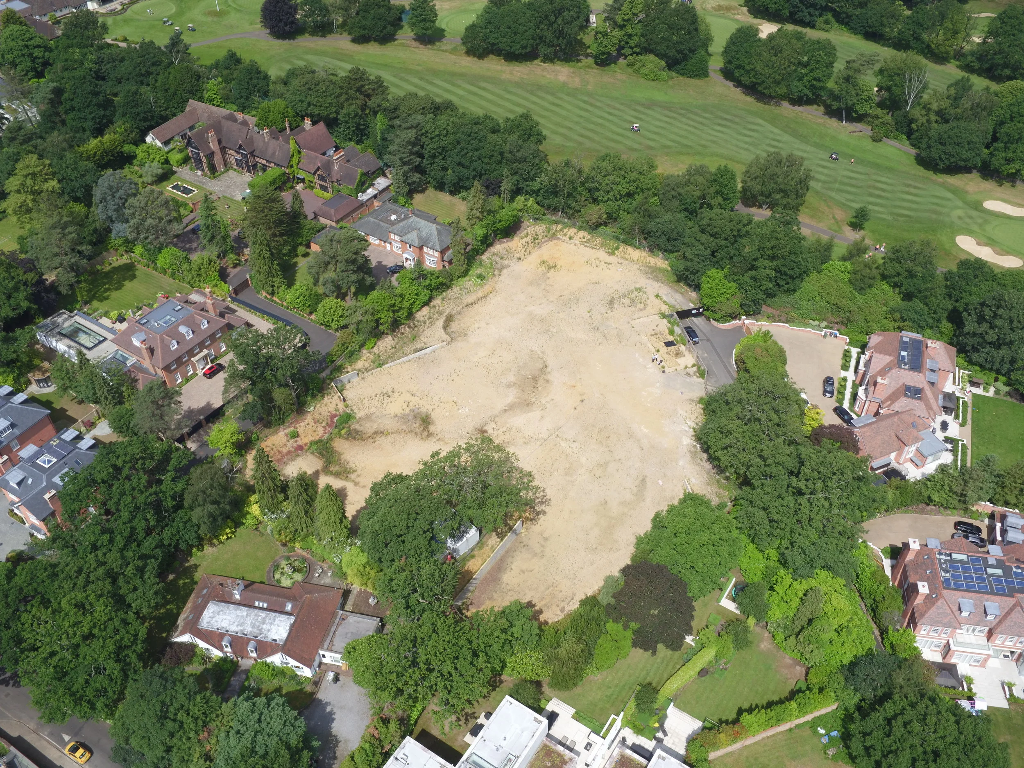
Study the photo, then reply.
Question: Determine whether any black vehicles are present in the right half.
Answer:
Yes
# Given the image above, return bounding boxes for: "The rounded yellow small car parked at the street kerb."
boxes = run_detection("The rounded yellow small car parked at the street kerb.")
[64,743,95,767]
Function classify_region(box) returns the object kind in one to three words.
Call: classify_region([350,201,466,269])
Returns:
house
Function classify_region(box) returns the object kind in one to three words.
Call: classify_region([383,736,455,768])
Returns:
house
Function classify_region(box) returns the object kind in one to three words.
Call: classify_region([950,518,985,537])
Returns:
car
